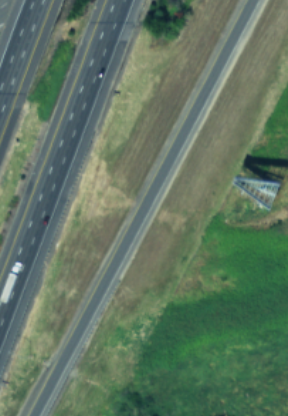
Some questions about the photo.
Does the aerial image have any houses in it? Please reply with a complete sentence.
No, there appears to be no house in this shot.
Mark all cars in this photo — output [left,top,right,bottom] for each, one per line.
[43,214,50,226]
[98,68,106,78]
